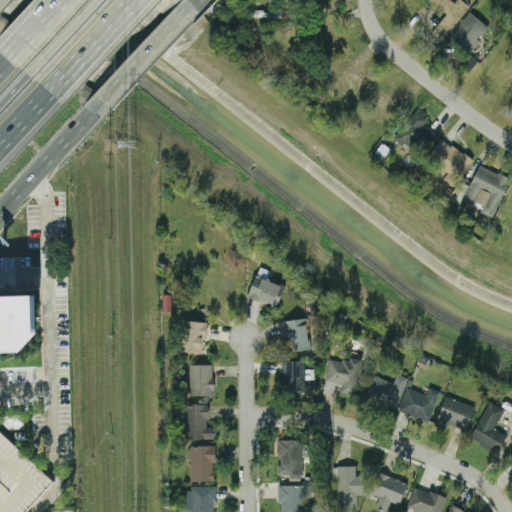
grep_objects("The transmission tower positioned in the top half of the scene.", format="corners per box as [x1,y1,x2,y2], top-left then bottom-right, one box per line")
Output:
[117,141,138,154]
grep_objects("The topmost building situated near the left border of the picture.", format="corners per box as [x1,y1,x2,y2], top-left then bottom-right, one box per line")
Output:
[0,294,40,354]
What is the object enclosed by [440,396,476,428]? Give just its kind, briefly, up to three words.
house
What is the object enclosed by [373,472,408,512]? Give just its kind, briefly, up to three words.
house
